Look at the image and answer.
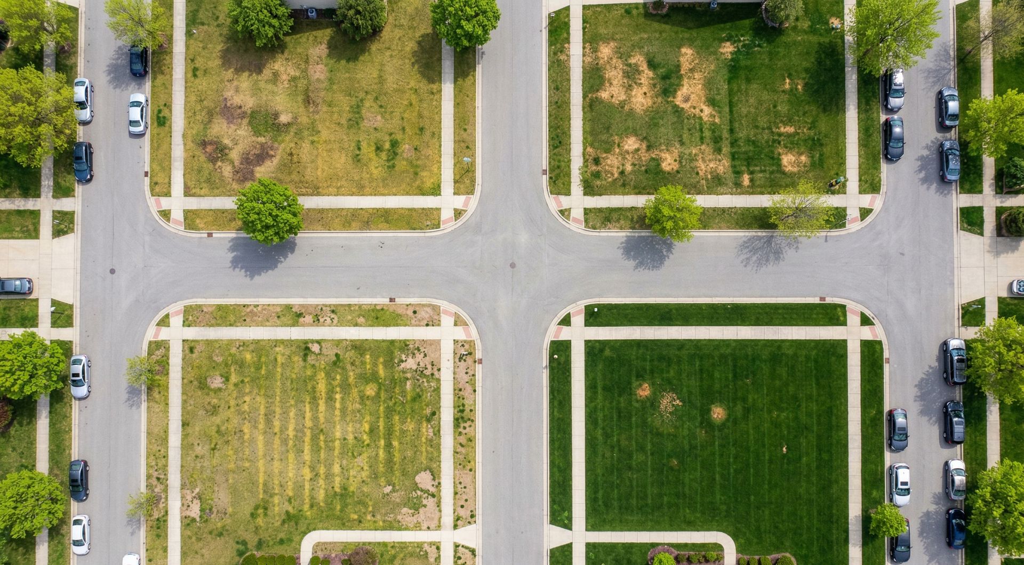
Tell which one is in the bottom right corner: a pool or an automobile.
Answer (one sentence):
What appears in the bottom right corner is an automobile.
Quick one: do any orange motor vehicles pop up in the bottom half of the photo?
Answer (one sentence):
No, I can find no orange motor vehicle in the bottom half of the photo.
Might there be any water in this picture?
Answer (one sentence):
No, the picture contains no water.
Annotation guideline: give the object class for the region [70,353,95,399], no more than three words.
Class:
car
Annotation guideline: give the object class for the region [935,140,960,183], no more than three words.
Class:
car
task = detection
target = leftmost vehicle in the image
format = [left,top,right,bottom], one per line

[0,276,35,296]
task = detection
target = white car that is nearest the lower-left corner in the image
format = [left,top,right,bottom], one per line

[70,513,96,554]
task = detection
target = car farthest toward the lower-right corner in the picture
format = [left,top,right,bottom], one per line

[941,506,967,549]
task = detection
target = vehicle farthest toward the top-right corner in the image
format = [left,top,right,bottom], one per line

[934,88,959,129]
